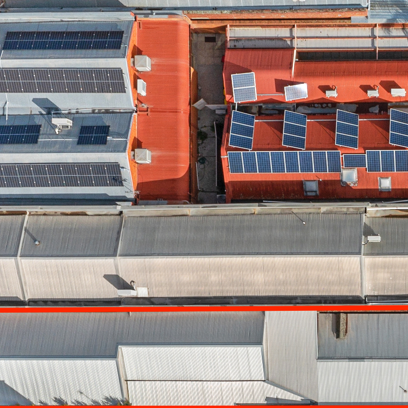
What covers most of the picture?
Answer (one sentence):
The largest share of the image is taken up by buildings.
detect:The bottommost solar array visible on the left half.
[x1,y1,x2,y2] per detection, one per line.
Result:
[0,164,123,188]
